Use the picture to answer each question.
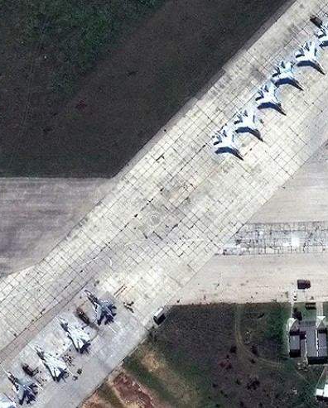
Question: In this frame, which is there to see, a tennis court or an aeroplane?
aeroplane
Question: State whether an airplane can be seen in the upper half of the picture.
Yes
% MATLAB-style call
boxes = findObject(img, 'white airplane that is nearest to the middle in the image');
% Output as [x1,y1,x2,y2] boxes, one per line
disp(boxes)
[208,121,241,152]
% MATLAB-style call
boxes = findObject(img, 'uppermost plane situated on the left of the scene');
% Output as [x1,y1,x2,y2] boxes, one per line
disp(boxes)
[85,290,115,325]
